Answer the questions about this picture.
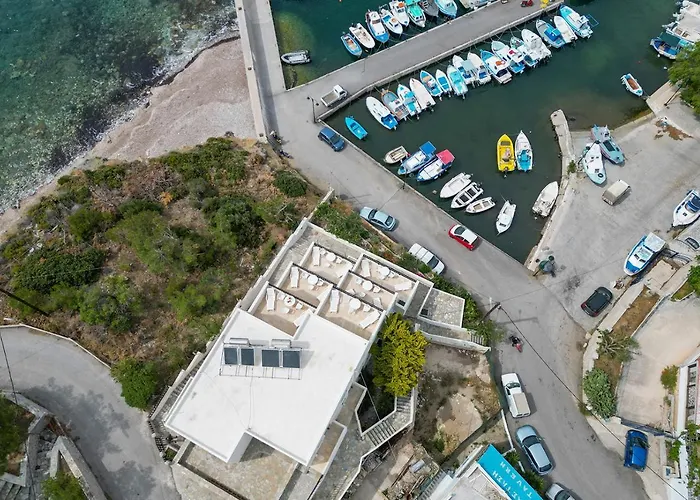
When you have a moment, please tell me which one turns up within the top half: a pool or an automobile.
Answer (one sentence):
What appears within the top half is an automobile.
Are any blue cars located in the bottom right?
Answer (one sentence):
Yes, a blue car is visible in the bottom right.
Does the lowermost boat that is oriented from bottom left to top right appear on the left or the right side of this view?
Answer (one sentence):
The lowermost boat that is oriented from bottom left to top right appears in the right half of the scene.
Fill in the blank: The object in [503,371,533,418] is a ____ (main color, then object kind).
white truck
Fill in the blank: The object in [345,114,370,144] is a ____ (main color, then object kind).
blue boat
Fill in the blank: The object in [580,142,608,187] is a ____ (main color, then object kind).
white boat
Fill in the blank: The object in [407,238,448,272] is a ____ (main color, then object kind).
white car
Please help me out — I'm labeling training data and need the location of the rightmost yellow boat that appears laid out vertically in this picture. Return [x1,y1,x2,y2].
[498,133,514,177]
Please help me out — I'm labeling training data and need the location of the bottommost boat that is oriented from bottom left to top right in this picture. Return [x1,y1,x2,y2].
[623,223,676,274]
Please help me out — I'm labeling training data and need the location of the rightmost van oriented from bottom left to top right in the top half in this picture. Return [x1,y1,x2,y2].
[601,174,638,204]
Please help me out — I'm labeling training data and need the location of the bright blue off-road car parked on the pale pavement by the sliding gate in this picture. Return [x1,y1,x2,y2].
[626,427,654,472]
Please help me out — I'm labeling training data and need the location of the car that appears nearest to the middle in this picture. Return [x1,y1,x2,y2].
[358,205,398,232]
